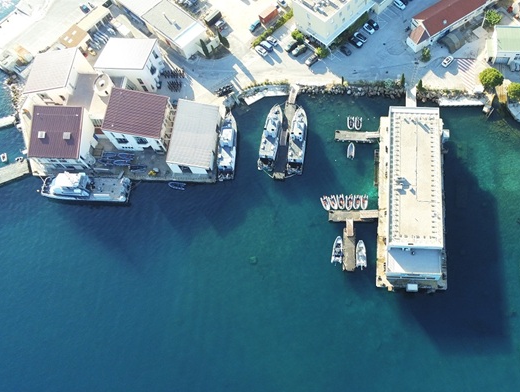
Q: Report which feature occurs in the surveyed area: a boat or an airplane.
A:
boat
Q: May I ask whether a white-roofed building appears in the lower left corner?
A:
No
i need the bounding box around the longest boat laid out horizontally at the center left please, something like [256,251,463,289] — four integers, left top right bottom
[40,175,133,207]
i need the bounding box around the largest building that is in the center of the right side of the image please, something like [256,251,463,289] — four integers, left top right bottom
[377,105,448,297]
